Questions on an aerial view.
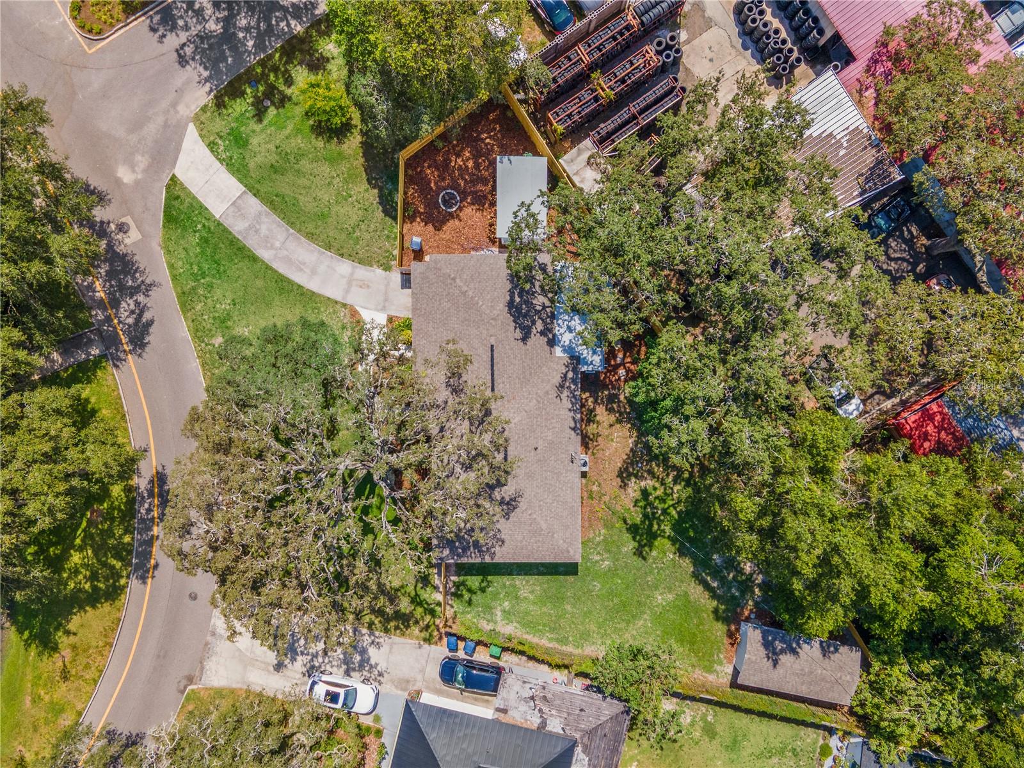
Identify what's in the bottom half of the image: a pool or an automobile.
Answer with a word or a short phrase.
automobile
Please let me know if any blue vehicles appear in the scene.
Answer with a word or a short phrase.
Yes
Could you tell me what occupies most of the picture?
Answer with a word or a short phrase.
trees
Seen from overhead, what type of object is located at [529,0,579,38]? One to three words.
car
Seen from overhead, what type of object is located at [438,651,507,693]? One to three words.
car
